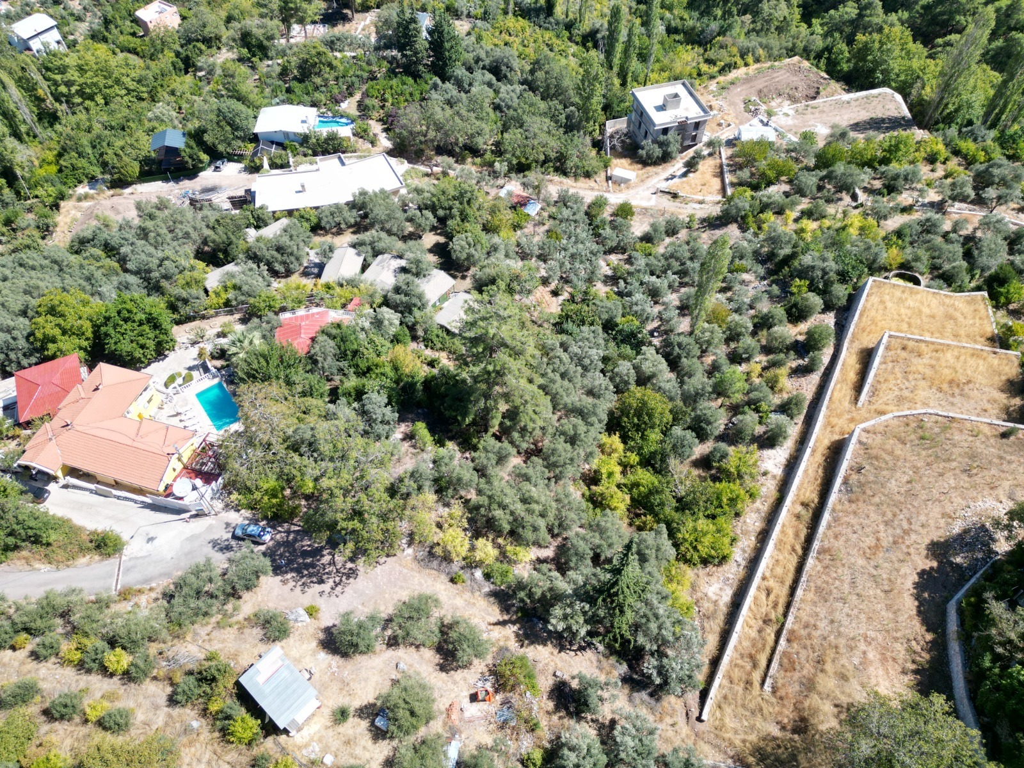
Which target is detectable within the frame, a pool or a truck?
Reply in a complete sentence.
The one in the frame is a pool.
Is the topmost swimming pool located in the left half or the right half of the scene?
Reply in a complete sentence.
The topmost swimming pool sits on the left side.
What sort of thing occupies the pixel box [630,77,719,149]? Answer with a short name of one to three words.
house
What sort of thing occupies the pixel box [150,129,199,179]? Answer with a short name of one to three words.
building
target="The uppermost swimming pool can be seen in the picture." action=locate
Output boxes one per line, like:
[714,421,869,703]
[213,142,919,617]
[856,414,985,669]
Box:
[314,113,358,147]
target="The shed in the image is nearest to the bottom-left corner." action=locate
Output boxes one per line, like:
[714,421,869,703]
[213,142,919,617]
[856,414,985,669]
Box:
[239,645,320,733]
